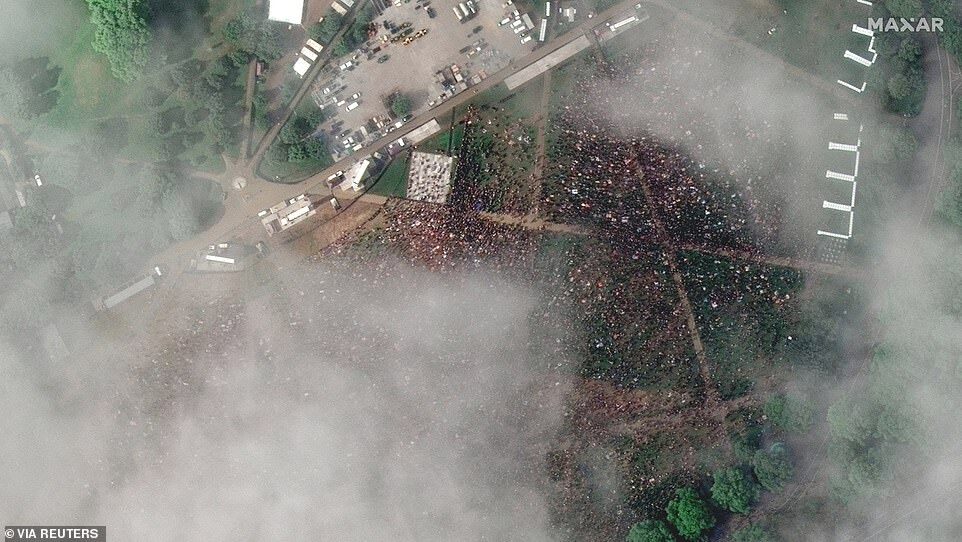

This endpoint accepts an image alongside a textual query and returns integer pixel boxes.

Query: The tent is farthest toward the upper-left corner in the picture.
[266,0,302,24]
